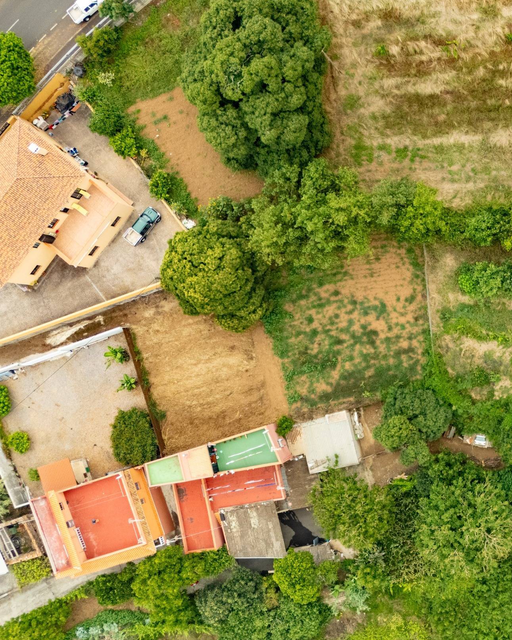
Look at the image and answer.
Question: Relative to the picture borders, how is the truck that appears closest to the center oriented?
at an angle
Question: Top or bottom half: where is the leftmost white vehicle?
top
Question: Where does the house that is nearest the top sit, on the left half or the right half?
left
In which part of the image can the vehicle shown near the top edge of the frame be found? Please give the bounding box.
[69,0,103,20]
